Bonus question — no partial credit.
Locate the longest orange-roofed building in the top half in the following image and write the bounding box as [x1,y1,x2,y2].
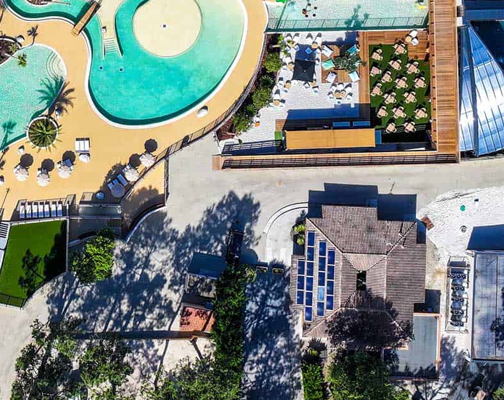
[277,119,376,149]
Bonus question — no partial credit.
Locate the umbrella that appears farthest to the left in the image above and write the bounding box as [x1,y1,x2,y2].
[14,165,29,179]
